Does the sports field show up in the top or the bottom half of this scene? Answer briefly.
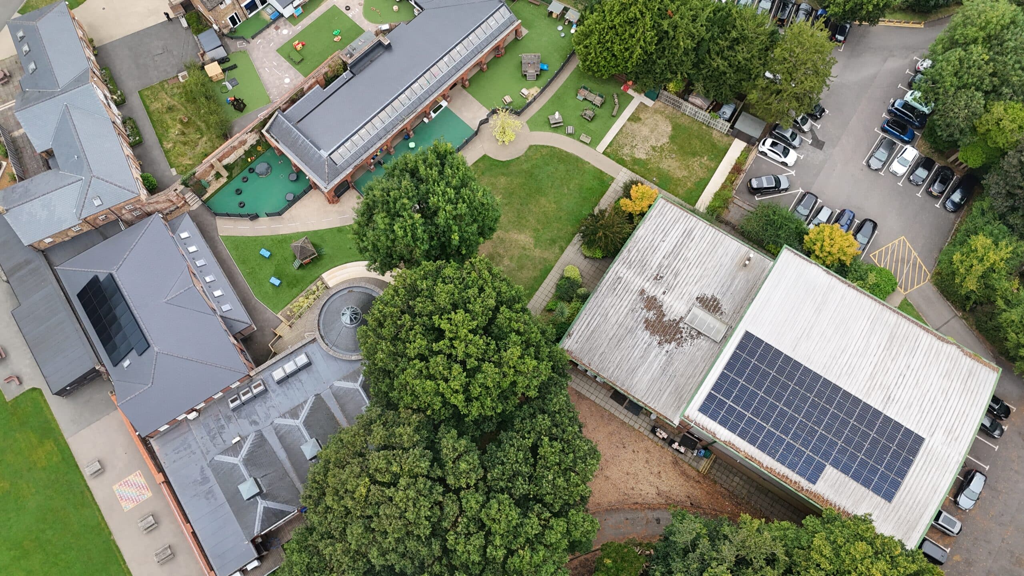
bottom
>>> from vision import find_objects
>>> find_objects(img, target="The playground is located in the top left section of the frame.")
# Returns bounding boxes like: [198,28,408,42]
[197,0,343,116]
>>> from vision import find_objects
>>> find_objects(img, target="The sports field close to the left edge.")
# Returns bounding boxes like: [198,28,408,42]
[0,387,131,576]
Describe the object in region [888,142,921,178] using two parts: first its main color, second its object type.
white car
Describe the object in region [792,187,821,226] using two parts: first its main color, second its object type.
gray car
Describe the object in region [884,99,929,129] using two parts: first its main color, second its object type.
black car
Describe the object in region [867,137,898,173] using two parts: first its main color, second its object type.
gray car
